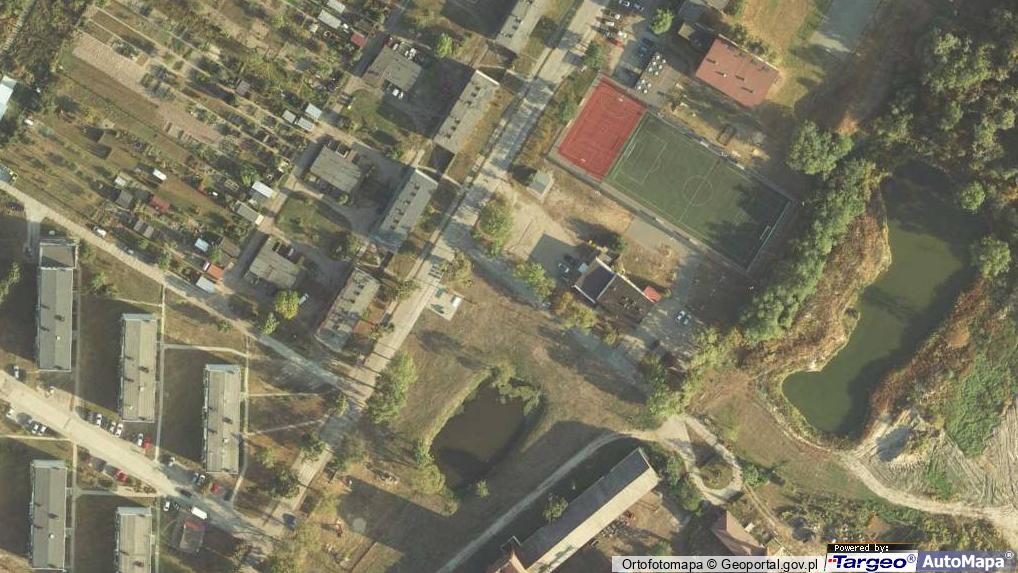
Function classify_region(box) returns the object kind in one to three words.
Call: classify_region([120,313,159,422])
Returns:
building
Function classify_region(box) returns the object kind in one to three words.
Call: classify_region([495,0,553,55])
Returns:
house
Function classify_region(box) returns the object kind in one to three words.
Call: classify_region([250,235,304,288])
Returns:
shed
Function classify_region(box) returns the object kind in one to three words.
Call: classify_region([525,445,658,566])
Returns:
barn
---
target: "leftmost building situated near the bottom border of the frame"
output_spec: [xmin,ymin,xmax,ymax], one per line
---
[31,461,70,570]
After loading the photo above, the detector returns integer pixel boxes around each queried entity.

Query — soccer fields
[605,113,791,268]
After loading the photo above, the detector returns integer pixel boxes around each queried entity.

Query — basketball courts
[560,82,645,180]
